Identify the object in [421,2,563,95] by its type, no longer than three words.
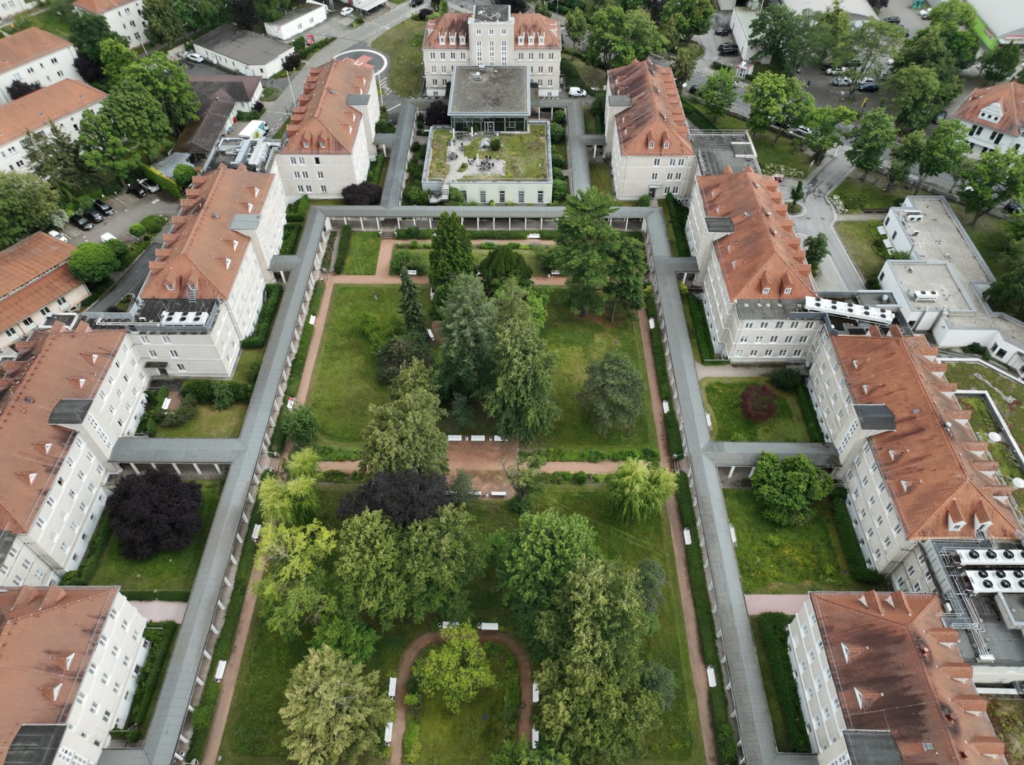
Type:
building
